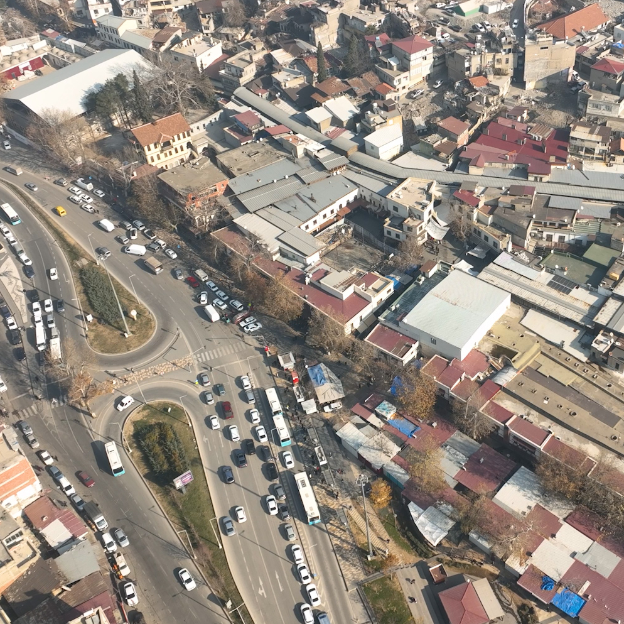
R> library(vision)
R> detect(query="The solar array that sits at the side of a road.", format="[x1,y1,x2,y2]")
[547,277,576,297]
